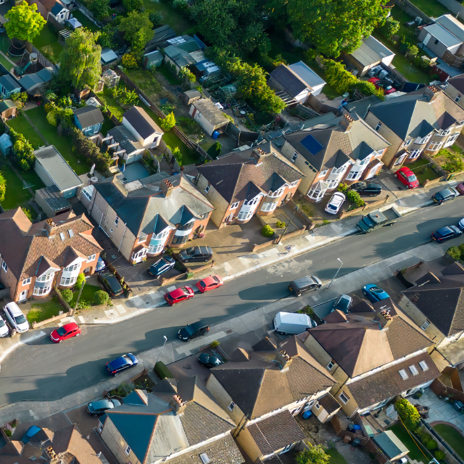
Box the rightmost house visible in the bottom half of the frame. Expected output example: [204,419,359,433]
[394,249,464,371]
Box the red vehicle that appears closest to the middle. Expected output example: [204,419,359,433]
[191,274,227,294]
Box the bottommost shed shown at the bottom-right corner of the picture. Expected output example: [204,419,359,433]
[365,429,409,464]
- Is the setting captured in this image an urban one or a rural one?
urban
